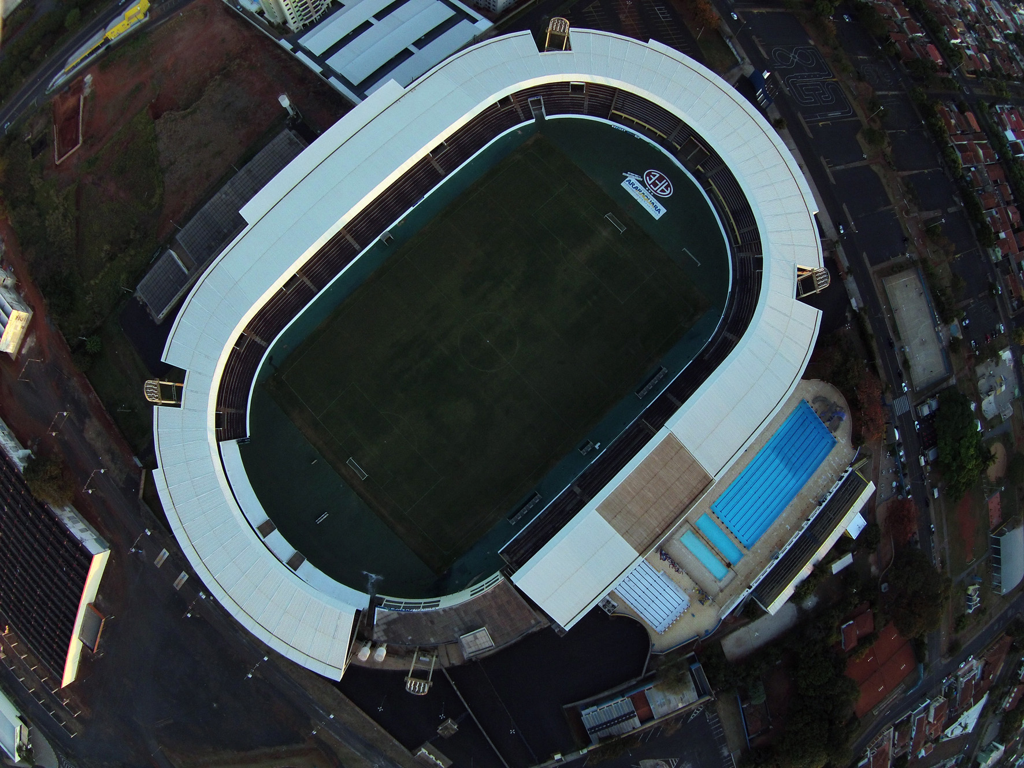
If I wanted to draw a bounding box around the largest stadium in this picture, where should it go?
[153,28,823,681]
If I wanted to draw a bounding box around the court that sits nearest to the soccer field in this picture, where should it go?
[878,268,950,392]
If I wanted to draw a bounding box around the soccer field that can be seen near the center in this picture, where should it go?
[241,119,727,599]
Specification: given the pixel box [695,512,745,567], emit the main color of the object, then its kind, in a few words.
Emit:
blue swimming pool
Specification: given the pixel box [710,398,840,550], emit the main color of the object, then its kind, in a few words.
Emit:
blue swimming pool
